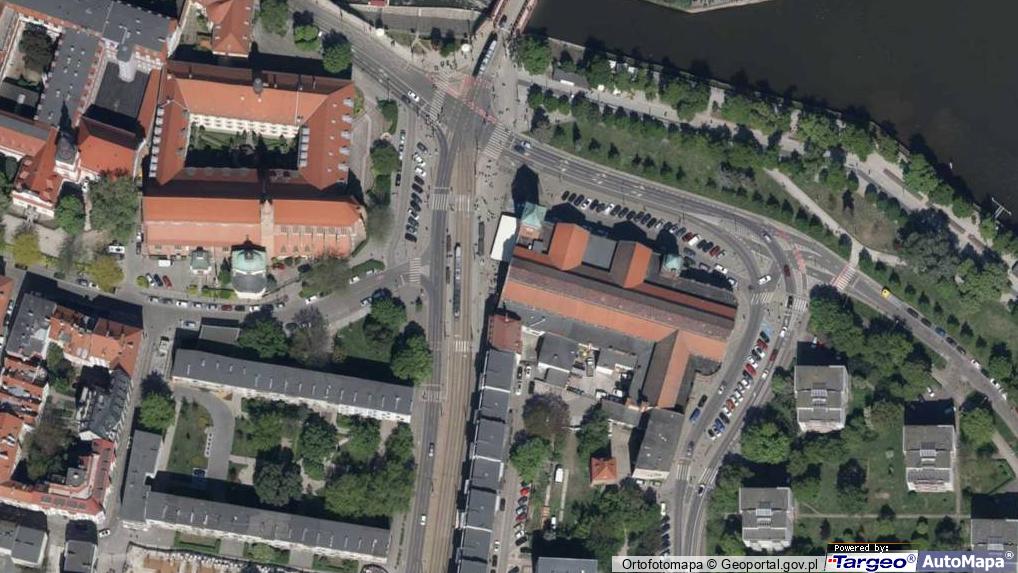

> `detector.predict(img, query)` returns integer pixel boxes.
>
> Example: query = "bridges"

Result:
[491,0,538,41]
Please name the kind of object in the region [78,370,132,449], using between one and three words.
house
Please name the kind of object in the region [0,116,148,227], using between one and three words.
building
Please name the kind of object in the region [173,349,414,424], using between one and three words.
building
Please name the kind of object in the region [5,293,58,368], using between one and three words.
house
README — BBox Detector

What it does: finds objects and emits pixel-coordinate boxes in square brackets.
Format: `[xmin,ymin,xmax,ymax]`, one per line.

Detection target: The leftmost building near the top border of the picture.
[0,0,191,127]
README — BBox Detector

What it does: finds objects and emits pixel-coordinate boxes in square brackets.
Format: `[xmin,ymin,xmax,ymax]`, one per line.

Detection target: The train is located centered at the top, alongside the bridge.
[478,40,496,78]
